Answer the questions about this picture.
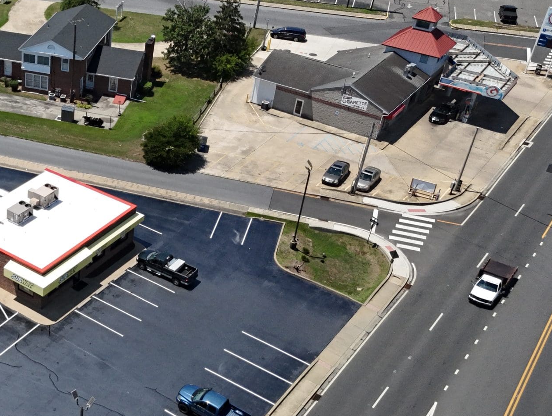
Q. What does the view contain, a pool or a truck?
truck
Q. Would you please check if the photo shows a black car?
Yes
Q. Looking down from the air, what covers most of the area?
paved ground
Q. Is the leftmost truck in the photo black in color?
Yes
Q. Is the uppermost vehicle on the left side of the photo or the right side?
right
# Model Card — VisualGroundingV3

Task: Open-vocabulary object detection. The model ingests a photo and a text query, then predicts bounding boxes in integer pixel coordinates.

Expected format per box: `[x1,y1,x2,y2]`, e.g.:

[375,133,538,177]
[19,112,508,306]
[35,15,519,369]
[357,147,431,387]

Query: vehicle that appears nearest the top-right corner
[497,5,519,25]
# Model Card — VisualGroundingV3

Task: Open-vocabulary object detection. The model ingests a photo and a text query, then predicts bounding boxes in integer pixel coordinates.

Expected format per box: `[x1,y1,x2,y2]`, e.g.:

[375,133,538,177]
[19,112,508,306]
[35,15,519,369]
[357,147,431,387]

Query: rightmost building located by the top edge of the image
[250,5,455,138]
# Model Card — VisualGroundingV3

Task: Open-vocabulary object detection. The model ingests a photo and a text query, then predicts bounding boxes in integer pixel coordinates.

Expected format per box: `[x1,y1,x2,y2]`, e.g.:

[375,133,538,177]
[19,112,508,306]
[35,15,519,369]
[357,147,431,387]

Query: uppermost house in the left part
[0,3,154,101]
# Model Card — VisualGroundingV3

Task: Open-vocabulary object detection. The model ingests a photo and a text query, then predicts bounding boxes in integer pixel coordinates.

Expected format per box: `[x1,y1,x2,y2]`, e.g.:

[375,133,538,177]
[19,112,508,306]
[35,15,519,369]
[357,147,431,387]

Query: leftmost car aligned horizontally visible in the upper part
[268,27,308,45]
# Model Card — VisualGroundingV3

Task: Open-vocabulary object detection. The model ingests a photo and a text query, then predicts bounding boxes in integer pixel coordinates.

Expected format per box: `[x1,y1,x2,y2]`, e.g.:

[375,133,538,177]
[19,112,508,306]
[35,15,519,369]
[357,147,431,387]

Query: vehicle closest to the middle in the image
[319,160,353,189]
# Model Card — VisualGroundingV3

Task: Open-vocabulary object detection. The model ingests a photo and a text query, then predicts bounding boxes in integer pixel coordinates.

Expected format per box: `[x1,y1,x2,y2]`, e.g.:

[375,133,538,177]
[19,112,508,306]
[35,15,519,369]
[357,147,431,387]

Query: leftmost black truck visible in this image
[135,251,206,291]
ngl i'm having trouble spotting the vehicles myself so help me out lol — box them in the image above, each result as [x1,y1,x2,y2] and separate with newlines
[135,251,206,291]
[426,99,459,126]
[497,5,519,25]
[268,27,308,45]
[464,254,525,313]
[351,166,385,194]
[170,384,255,416]
[319,160,353,189]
